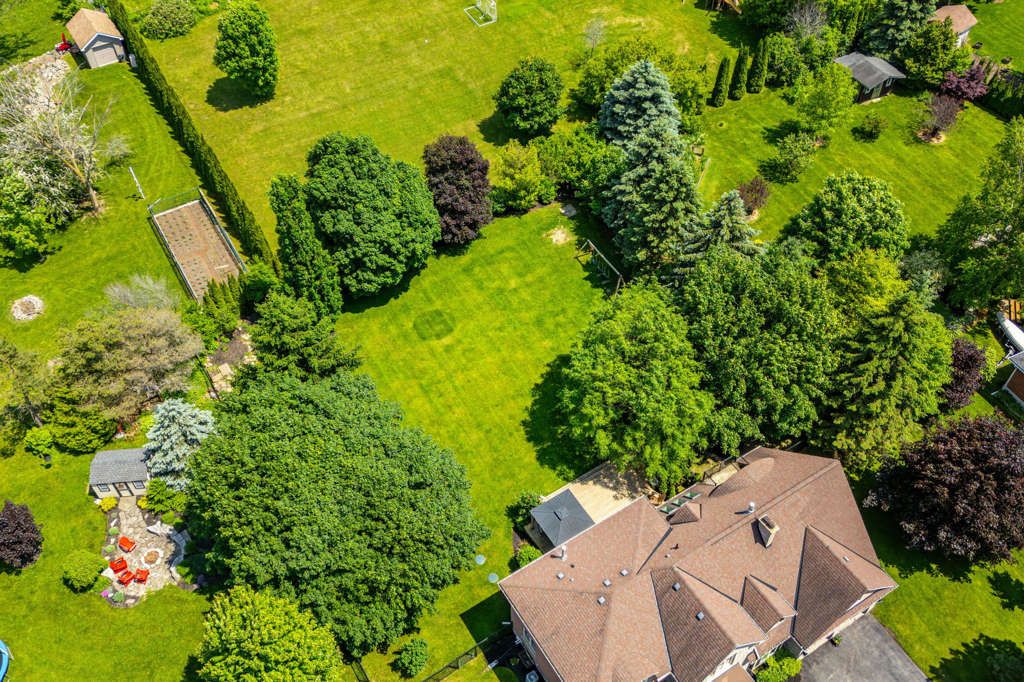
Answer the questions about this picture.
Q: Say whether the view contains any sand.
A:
No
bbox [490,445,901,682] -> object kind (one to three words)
house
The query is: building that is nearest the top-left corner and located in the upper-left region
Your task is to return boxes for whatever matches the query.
[61,6,128,70]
